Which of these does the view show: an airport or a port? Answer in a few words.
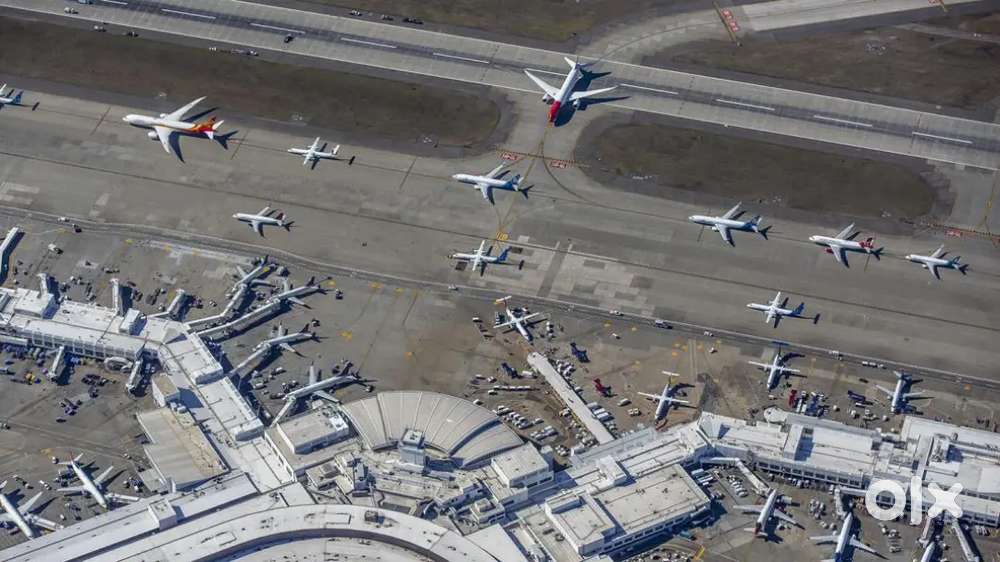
airport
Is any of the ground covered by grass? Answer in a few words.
Yes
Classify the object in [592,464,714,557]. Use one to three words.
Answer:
building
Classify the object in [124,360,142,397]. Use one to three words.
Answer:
jet bridge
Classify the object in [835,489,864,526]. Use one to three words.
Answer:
jet bridge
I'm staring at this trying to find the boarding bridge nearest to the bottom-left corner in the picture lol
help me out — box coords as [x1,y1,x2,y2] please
[22,510,60,534]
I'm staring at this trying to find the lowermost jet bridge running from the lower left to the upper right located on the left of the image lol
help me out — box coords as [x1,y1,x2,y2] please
[269,394,298,430]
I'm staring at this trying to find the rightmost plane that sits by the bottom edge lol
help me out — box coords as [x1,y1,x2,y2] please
[889,538,940,562]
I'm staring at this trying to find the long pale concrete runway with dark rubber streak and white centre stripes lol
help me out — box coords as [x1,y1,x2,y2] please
[0,0,1000,169]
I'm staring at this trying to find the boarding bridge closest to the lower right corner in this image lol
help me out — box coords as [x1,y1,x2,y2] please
[948,516,978,562]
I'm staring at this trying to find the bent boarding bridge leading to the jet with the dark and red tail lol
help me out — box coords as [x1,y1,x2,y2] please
[702,457,772,498]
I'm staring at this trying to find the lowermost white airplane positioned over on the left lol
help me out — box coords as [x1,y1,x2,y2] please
[0,484,40,538]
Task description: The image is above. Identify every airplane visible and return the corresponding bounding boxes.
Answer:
[730,491,796,537]
[748,341,801,388]
[282,363,357,402]
[889,538,940,562]
[232,203,287,233]
[905,245,962,275]
[126,98,228,153]
[267,277,320,306]
[809,224,874,261]
[874,367,924,414]
[0,484,40,538]
[287,137,341,164]
[524,47,619,122]
[689,202,763,240]
[453,238,511,270]
[452,162,524,199]
[232,256,276,294]
[493,296,540,340]
[638,370,689,419]
[54,451,115,509]
[257,324,313,353]
[808,515,877,562]
[746,290,806,322]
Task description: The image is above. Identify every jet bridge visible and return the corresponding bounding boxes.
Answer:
[702,457,772,498]
[103,492,142,505]
[835,489,864,526]
[37,271,50,295]
[196,295,284,340]
[48,346,65,387]
[948,516,978,562]
[146,287,186,319]
[227,342,276,381]
[184,281,250,332]
[269,394,298,430]
[918,517,934,549]
[110,277,122,315]
[124,360,142,397]
[22,510,60,534]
